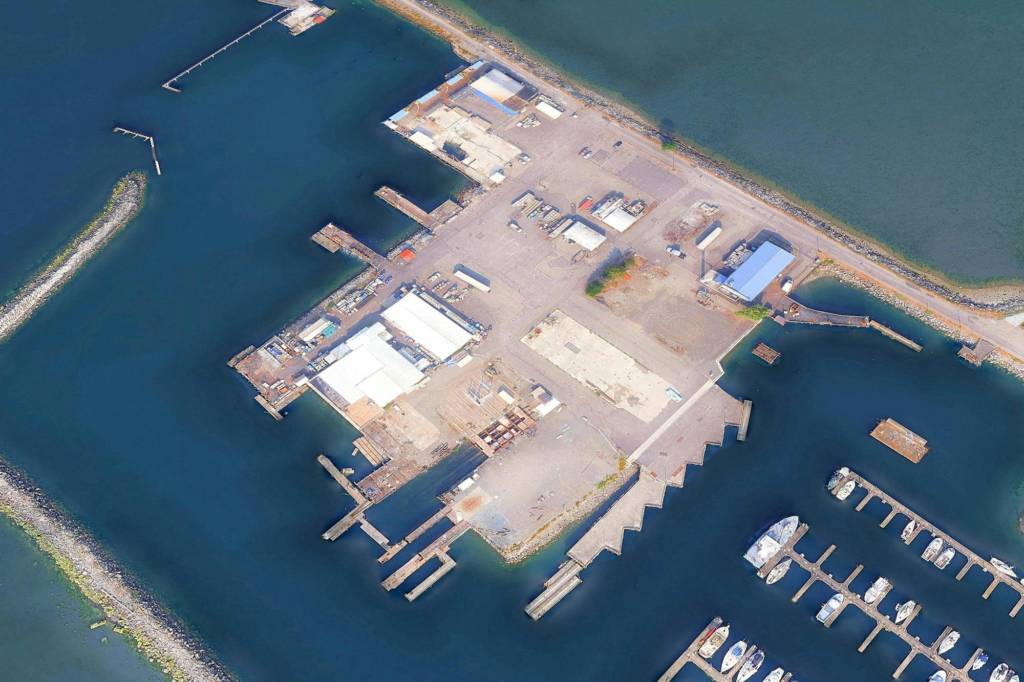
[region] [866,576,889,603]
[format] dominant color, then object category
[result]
white boat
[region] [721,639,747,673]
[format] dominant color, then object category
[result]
white boat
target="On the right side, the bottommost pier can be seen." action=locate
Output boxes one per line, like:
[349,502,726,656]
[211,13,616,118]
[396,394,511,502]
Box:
[661,618,757,682]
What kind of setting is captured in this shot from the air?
port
